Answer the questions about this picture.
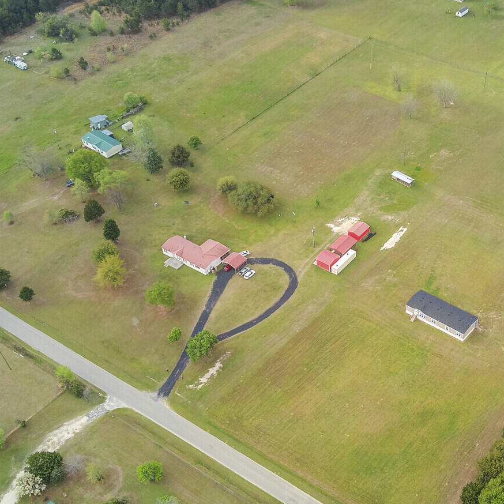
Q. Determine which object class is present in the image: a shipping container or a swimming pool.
shipping container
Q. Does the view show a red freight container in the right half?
No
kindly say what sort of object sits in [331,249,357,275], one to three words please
shipping container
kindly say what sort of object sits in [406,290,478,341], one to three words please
house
